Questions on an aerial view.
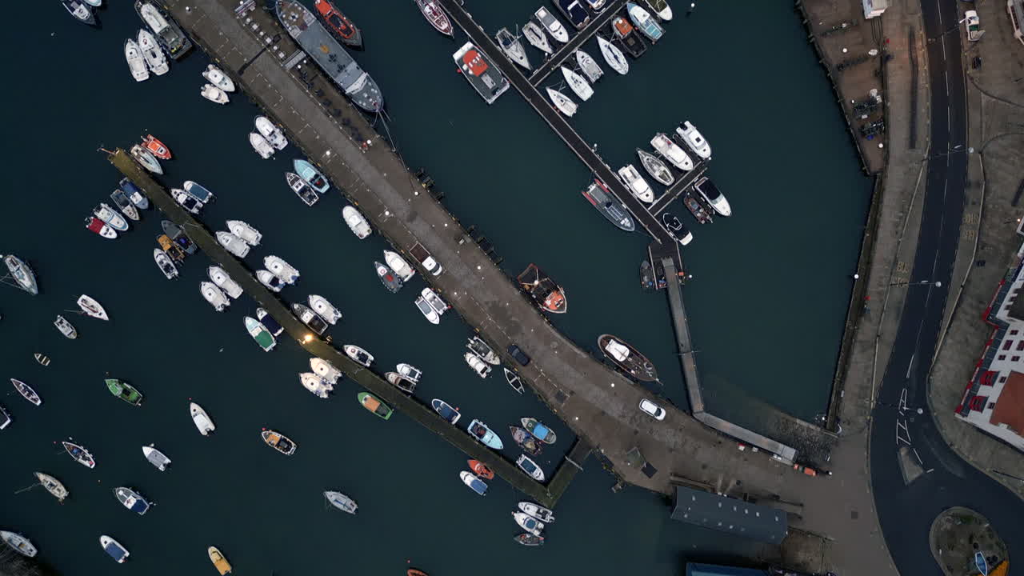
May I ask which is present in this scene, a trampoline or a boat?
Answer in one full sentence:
There is a boat in the scene.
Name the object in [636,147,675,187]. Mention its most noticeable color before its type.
gray boat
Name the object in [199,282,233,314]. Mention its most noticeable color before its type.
white boat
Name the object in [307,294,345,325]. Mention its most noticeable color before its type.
white boat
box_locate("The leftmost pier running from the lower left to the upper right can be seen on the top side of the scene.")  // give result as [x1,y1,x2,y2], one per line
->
[530,0,633,90]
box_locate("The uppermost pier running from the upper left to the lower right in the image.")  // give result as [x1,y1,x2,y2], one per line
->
[436,0,676,245]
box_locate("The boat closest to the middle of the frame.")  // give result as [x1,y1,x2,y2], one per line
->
[518,265,567,314]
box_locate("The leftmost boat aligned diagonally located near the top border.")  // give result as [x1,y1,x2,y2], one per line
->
[67,0,98,26]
